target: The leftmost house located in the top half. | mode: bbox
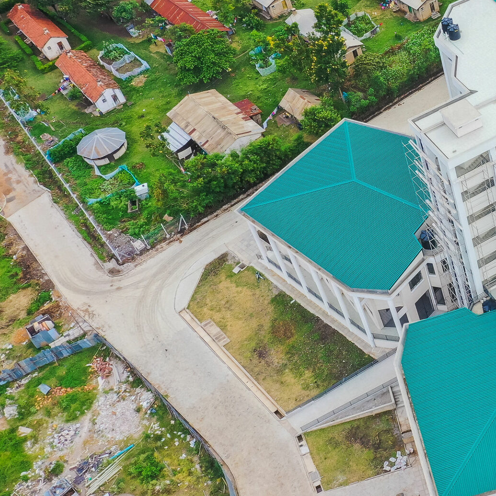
[7,0,73,60]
